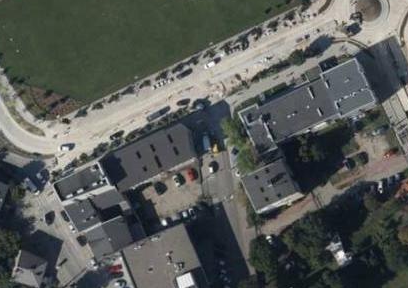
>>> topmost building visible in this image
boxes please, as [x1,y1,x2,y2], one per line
[235,59,376,156]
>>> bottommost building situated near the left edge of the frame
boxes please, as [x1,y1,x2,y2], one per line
[10,247,48,288]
